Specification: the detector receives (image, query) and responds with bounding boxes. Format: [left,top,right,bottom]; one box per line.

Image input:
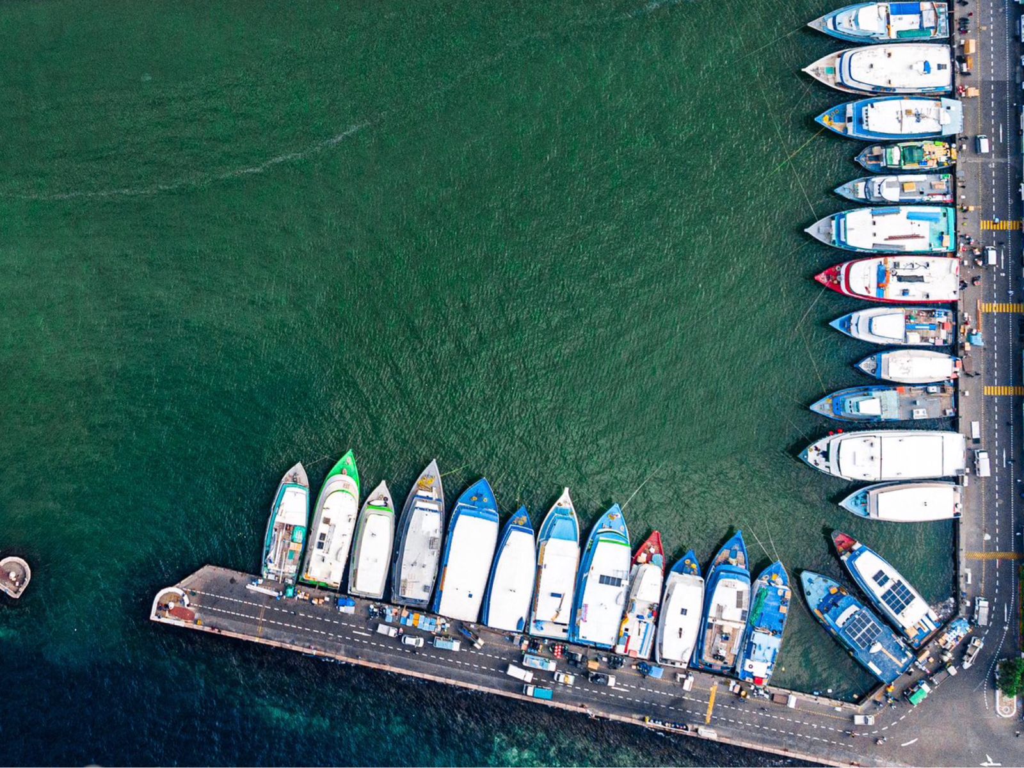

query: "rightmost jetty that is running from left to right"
[149,564,859,768]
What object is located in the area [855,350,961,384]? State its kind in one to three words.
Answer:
boat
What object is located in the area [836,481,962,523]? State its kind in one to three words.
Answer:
boat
